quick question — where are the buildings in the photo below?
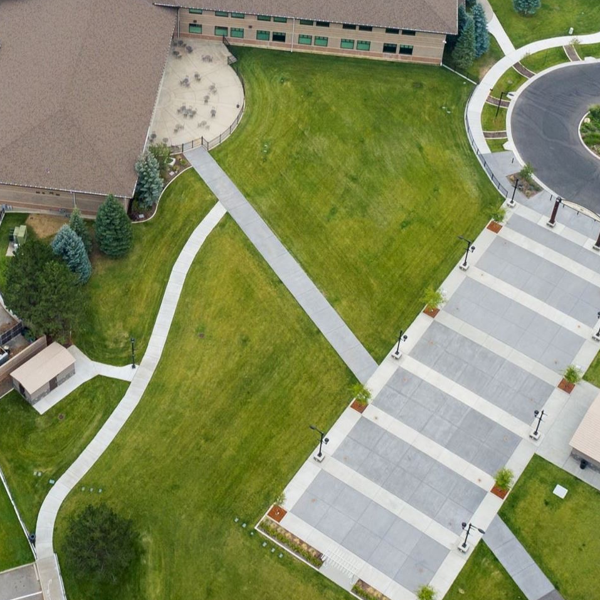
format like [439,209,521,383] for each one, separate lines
[12,343,75,405]
[0,0,459,220]
[569,394,600,472]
